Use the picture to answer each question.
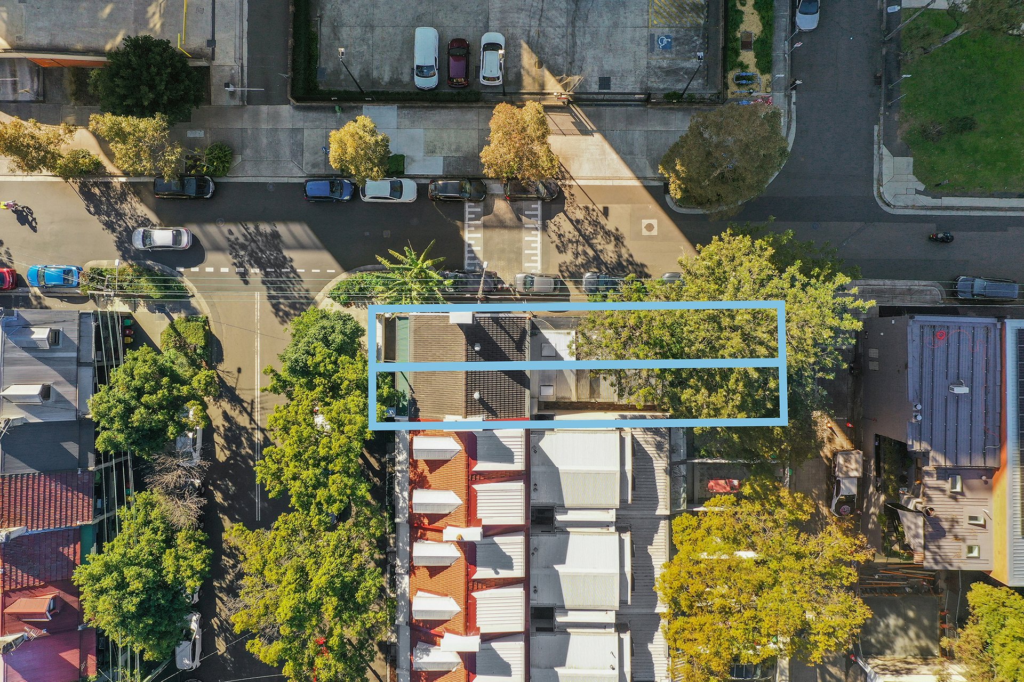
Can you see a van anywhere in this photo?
Yes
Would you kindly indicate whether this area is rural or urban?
urban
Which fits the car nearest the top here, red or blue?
blue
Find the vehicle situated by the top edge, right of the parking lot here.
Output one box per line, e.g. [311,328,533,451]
[793,0,823,32]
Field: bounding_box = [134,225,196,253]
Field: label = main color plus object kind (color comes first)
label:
gray car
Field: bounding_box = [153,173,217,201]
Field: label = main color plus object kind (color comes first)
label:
black car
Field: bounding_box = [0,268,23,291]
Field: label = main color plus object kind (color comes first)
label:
red car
